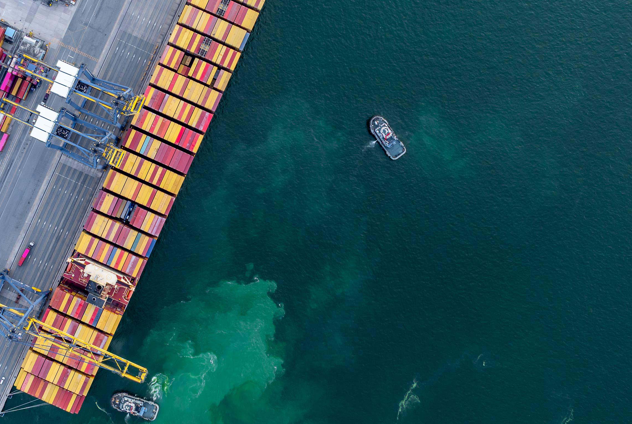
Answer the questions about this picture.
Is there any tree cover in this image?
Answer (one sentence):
No, there is no tree cover in the image.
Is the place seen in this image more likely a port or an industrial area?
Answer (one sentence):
What you see here is a port.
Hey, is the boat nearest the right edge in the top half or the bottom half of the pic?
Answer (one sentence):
The top half of the photo is where the boat nearest the right edge is.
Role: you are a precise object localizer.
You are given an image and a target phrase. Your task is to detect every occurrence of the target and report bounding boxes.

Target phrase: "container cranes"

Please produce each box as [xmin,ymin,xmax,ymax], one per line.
[10,51,145,135]
[0,95,121,175]
[0,57,47,93]
[0,271,149,385]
